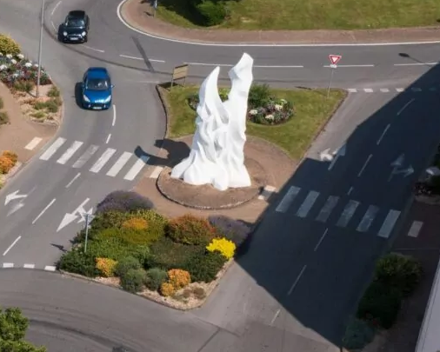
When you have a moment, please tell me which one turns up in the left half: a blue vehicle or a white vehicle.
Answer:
blue vehicle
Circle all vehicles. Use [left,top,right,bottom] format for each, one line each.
[79,62,115,109]
[60,3,93,44]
